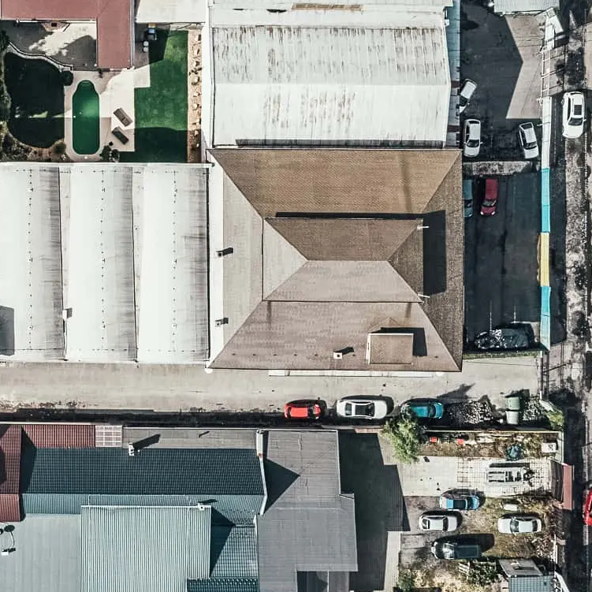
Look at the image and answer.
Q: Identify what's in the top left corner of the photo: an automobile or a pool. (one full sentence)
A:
You can see a pool in the top left corner of the photo.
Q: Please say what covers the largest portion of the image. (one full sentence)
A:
The scene is dominated by buildings.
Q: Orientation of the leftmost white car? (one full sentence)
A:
I'd say the leftmost white car is aligned from side to side in the picture.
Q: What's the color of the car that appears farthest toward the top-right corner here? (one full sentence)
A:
In this view, the car that appears farthest toward the top-right corner is white.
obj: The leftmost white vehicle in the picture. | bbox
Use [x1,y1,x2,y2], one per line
[339,398,390,421]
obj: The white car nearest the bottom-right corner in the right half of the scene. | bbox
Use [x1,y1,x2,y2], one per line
[499,515,545,538]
